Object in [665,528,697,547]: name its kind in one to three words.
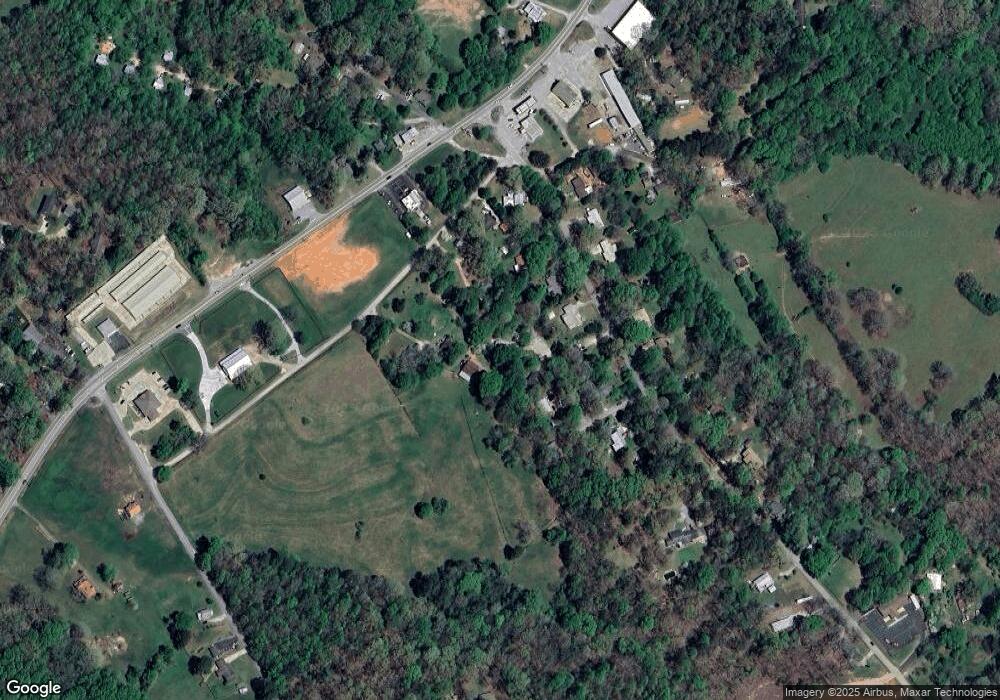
house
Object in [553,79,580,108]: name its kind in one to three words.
building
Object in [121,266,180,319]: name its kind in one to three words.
building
